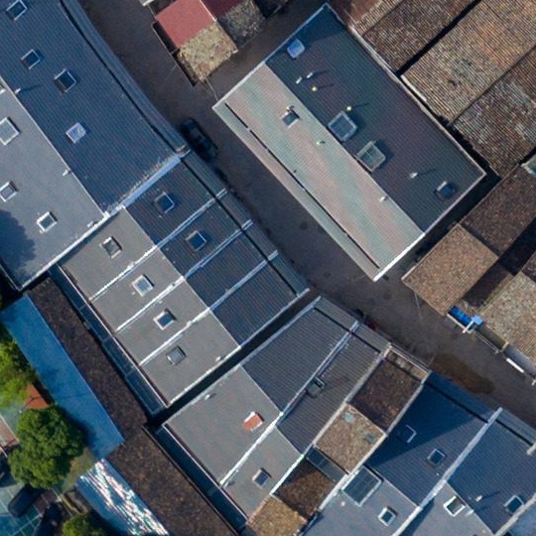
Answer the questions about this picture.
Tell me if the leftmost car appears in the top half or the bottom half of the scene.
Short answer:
bottom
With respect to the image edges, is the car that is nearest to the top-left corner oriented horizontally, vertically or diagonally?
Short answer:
diagonally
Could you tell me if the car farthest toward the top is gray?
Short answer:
No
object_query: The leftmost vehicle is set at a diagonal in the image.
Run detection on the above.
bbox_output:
[5,480,44,521]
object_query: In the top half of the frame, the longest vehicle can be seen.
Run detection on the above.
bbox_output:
[180,116,220,161]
